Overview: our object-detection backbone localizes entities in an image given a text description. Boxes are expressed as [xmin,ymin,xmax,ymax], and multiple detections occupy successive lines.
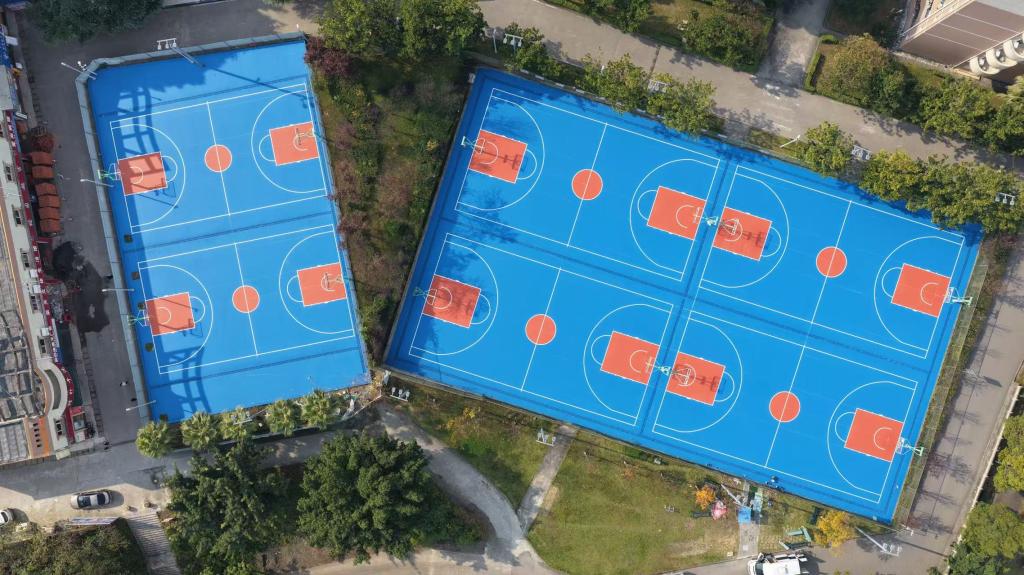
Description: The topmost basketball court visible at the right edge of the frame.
[685,147,985,374]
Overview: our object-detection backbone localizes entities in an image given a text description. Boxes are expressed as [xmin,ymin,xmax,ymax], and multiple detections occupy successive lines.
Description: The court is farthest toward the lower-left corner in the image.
[123,209,371,422]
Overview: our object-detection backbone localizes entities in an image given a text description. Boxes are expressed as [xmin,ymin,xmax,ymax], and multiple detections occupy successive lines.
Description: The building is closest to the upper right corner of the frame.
[904,0,1024,103]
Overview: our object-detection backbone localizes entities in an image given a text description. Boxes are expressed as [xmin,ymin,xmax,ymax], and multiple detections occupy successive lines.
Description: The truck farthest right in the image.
[751,552,801,575]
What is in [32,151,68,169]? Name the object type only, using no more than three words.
tent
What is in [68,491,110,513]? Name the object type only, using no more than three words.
car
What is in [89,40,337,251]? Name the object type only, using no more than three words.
basketball court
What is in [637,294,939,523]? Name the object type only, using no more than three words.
basketball court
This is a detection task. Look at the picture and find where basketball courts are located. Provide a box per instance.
[385,214,682,442]
[637,294,939,523]
[89,40,337,251]
[431,67,729,291]
[685,147,985,374]
[123,209,371,422]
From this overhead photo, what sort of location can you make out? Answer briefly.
sports ground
